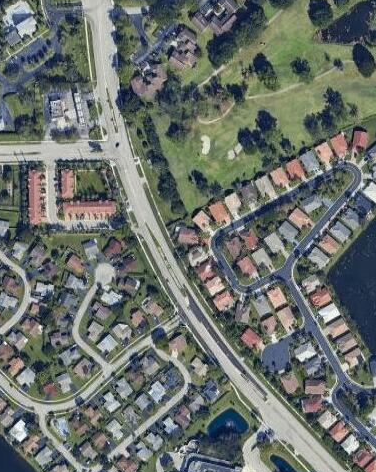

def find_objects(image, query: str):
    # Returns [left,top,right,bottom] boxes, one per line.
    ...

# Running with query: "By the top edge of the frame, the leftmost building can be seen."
[2,0,36,45]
